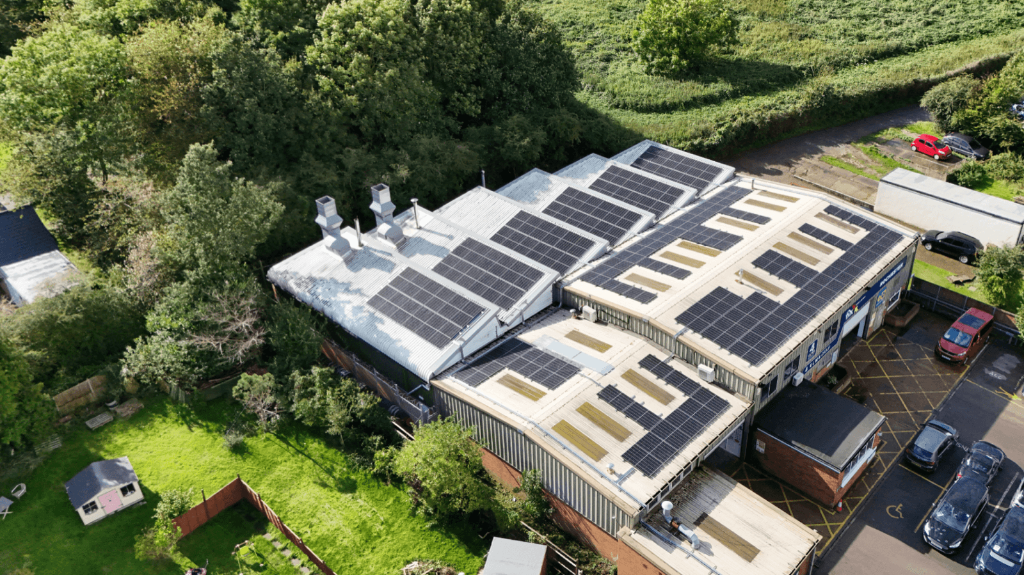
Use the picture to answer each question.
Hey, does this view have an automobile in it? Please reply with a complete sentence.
Yes, the photo shows an automobile.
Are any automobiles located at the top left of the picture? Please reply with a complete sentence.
No, there is no automobile at the top left of the picture.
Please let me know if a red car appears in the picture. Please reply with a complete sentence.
Yes, looking at the shot, I can spot a red car.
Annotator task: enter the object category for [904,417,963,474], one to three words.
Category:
car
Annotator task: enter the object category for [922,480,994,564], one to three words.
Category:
car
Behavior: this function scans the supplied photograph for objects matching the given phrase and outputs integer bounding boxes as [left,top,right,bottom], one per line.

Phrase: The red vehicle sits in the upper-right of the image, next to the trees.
[911,132,956,158]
